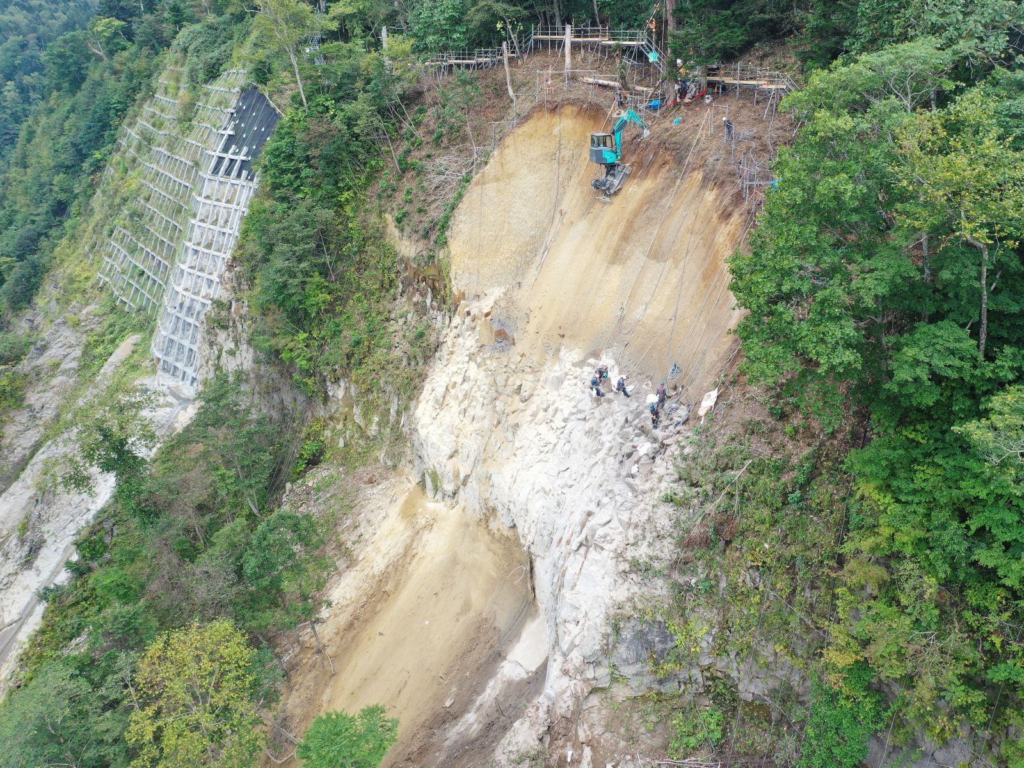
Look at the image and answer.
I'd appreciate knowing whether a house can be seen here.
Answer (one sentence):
No, I can see no house in this picture.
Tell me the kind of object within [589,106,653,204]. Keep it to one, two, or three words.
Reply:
work vehicle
